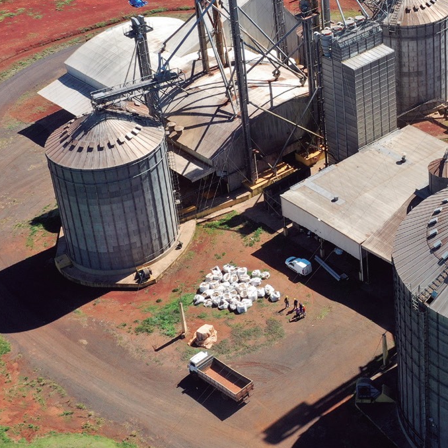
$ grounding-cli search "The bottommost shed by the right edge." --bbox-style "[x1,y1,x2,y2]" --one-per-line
[281,125,448,301]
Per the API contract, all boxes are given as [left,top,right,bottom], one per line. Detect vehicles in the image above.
[284,253,316,276]
[183,349,254,406]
